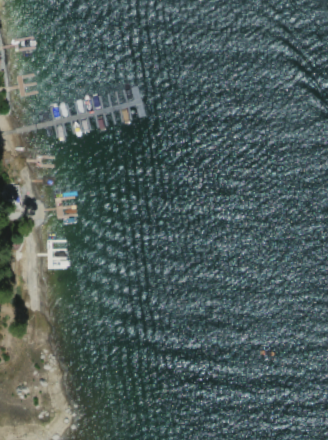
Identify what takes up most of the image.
water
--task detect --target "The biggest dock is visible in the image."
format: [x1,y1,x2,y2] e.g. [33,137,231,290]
[2,86,146,138]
